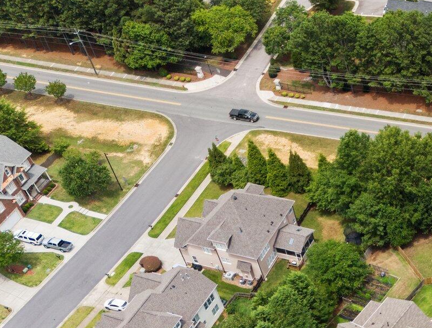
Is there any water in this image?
No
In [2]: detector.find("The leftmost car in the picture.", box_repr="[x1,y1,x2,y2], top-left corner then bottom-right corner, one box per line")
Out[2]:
[11,229,43,245]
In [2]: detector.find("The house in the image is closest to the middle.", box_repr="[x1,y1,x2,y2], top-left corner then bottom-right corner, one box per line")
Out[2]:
[167,178,316,282]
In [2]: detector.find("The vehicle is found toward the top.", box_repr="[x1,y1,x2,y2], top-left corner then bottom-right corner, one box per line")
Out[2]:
[228,111,257,124]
